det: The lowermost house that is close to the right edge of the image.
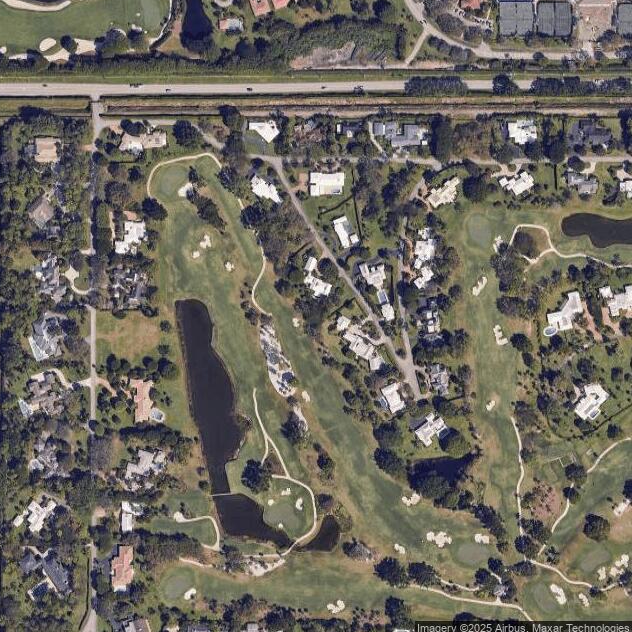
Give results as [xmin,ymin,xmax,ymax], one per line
[574,381,611,419]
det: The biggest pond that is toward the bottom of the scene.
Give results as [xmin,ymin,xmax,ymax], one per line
[176,300,293,547]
